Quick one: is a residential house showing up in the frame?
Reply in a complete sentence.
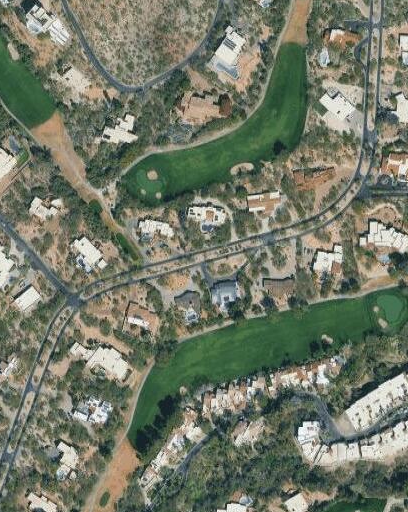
Yes, there is a residential house in the image.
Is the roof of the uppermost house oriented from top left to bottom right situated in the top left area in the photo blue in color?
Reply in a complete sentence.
No, the roof of the uppermost house oriented from top left to bottom right situated in the top left area is actually white.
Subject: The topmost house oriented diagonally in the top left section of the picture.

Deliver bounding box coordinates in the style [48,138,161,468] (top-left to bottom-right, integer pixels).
[26,5,70,43]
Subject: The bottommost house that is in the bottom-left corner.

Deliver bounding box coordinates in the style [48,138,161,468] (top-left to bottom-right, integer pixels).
[26,492,61,512]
